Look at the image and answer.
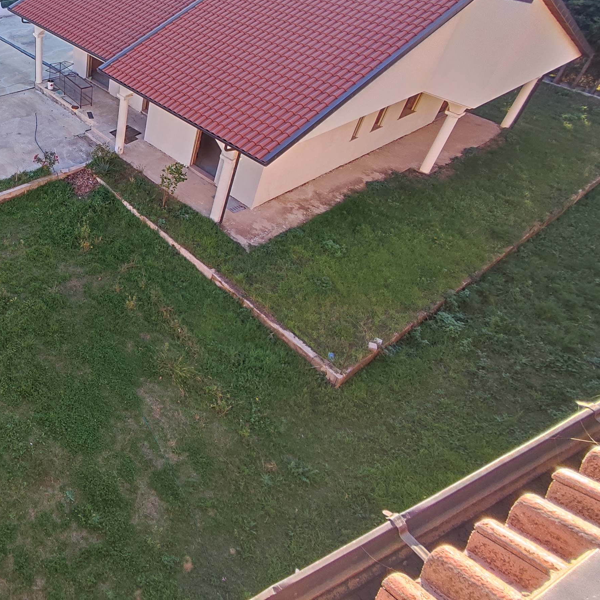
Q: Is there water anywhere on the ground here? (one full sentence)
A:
No, water can't be seen anywhere here.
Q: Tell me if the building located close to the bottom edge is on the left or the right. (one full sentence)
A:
The building located close to the bottom edge is on the right side of the image.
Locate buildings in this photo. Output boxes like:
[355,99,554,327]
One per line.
[233,395,600,600]
[2,0,600,255]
